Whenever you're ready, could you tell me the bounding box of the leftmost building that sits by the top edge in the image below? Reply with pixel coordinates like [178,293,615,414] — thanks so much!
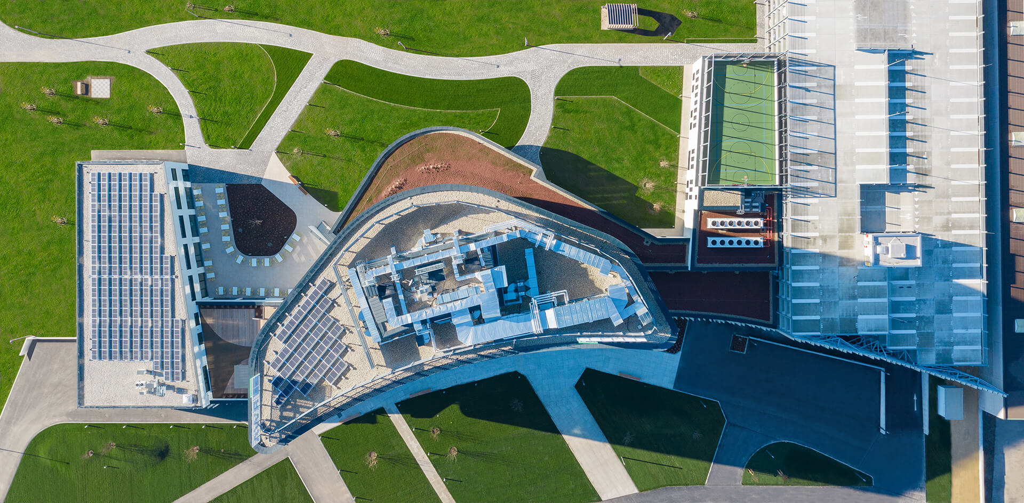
[601,3,638,30]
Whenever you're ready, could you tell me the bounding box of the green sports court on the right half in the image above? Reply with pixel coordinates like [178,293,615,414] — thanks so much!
[708,61,774,184]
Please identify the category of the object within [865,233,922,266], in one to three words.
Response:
house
